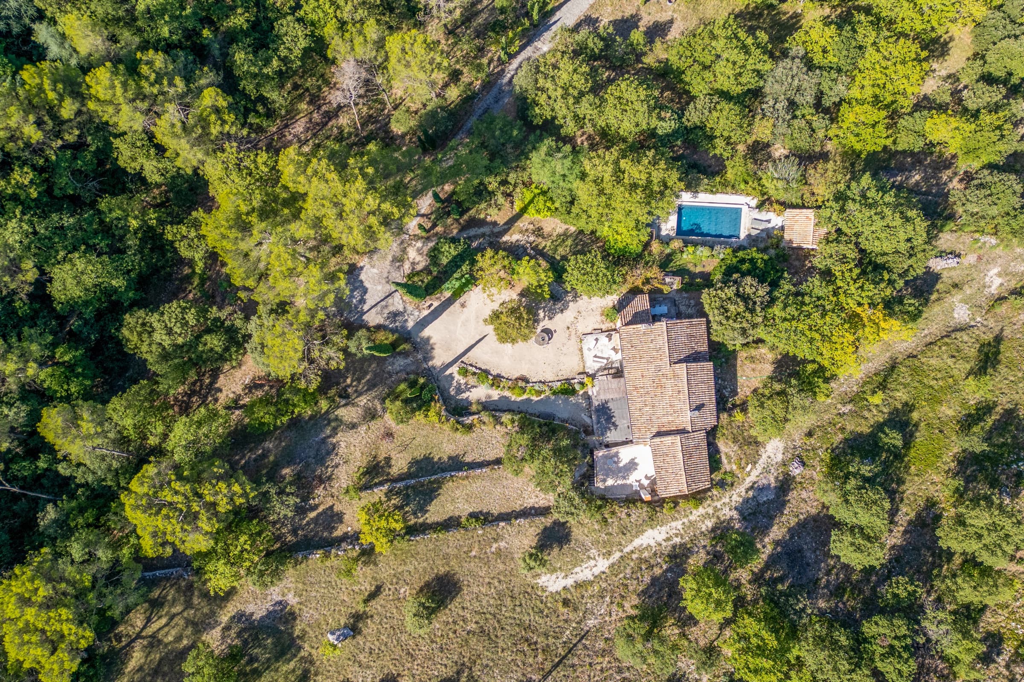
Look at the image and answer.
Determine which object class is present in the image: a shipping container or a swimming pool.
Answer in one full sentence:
Looking from above, you can make out a swimming pool.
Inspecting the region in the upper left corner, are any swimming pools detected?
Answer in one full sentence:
No, there's no swimming pool to be seen in the upper left corner.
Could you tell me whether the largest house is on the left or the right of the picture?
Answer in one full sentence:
The largest house appears in the right half of the scene.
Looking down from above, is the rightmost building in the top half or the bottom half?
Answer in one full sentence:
You can find the rightmost building in the top half.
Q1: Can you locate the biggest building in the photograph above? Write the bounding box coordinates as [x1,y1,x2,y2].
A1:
[617,317,719,498]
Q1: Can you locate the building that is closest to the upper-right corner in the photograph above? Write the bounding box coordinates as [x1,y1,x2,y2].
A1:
[777,208,829,251]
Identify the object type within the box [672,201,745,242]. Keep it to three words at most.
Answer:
swimming pool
